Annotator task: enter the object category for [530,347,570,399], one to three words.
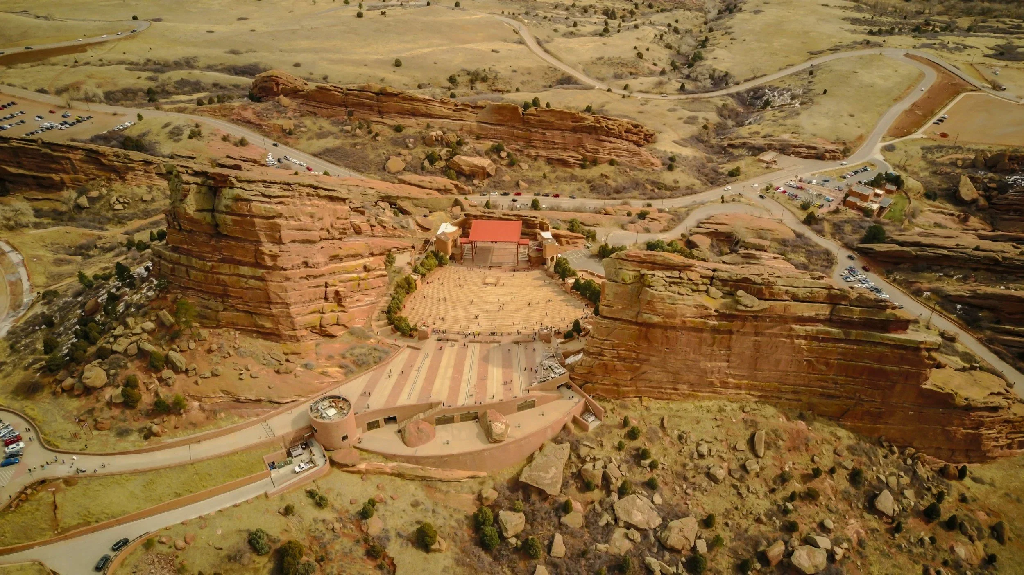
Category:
building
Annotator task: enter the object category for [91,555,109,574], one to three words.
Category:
car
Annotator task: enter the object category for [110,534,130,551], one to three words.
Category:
car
